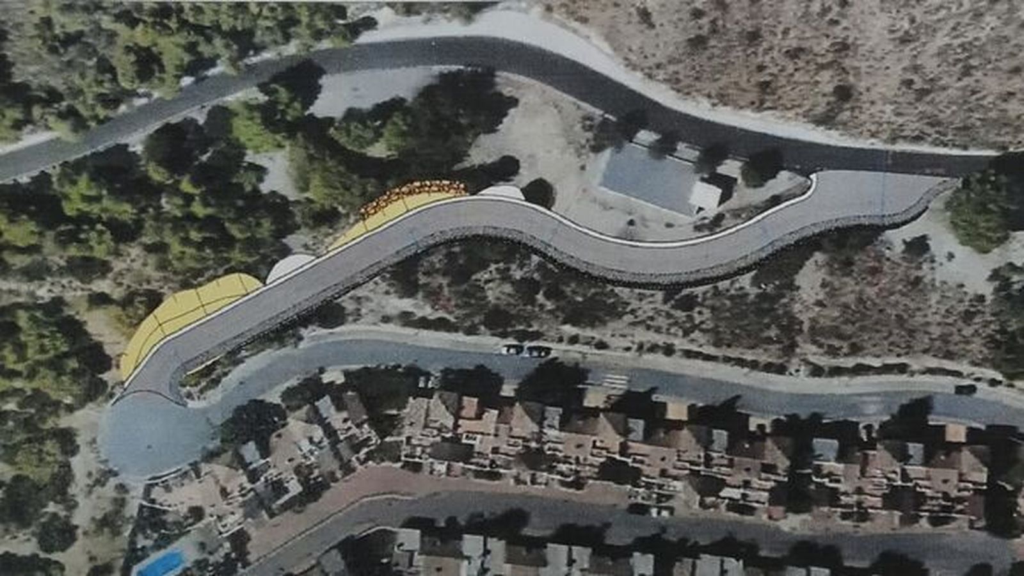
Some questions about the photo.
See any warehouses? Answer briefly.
No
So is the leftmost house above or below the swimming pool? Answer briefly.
above it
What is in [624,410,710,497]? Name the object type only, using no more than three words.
house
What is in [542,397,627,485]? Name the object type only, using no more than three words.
house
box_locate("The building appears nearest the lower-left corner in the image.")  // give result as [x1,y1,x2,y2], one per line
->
[153,451,264,530]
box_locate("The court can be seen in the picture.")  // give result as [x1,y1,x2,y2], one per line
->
[594,141,704,217]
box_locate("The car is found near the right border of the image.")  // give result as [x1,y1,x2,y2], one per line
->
[954,383,978,395]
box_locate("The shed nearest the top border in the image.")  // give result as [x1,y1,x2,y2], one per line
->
[688,182,722,213]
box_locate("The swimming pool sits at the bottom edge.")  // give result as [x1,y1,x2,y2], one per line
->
[129,549,193,576]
